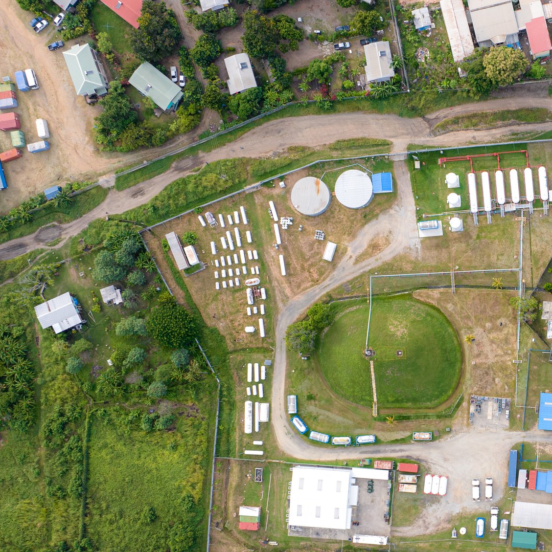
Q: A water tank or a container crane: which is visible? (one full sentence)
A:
The image shows a water tank.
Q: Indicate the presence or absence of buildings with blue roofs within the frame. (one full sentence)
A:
Yes, the photo shows a building with a blue roof.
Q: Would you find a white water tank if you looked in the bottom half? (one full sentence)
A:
No, in the bottom half there is no white water tank.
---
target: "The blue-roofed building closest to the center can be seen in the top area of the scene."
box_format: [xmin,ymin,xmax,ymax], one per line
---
[372,172,393,194]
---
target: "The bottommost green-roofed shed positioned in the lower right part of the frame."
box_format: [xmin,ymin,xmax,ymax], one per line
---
[513,530,538,548]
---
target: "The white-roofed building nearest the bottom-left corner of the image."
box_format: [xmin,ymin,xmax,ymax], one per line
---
[35,292,86,333]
